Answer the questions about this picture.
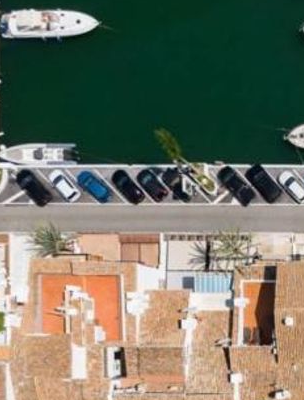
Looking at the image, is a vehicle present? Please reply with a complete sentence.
Yes, the image includes a vehicle.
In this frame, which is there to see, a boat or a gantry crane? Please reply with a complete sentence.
The image shows a boat.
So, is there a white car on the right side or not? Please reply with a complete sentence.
Yes, a white car shows up on the right side.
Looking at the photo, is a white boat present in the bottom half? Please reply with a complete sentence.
No, there's no white boat to be seen in the bottom half.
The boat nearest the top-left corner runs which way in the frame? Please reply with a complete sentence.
In this picture, the boat nearest the top-left corner lies from side to side.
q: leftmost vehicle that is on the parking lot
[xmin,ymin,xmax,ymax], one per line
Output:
[20,169,54,207]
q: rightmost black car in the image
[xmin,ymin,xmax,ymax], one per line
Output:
[247,166,282,203]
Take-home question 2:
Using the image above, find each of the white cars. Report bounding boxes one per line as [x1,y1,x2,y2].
[52,171,81,202]
[279,170,304,205]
